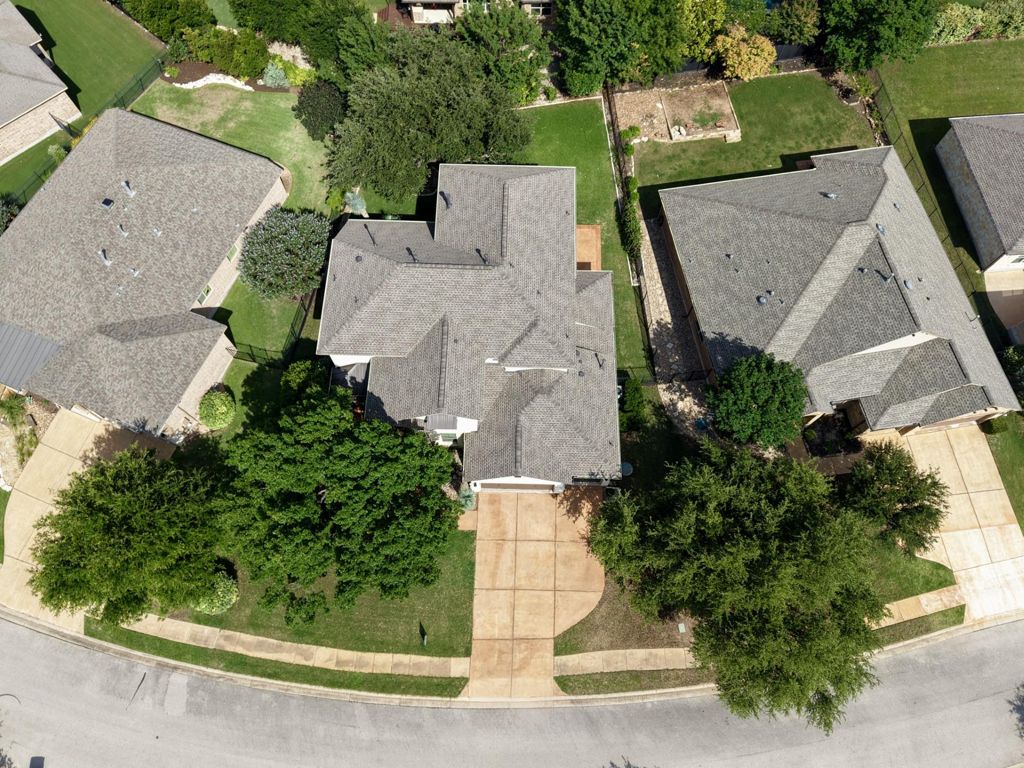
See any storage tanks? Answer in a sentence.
No, there's no storage tank here.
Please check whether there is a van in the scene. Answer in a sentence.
No, the photo shows no van.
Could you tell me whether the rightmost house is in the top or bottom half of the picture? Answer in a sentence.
The top half of the photo is where the rightmost house is.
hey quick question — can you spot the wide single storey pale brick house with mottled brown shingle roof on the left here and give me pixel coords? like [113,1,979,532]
[0,105,288,441]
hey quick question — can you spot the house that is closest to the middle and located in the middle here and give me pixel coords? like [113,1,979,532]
[315,163,621,491]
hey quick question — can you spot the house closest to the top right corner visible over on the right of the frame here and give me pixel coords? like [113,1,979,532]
[935,112,1024,272]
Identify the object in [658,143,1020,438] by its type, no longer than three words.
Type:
house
